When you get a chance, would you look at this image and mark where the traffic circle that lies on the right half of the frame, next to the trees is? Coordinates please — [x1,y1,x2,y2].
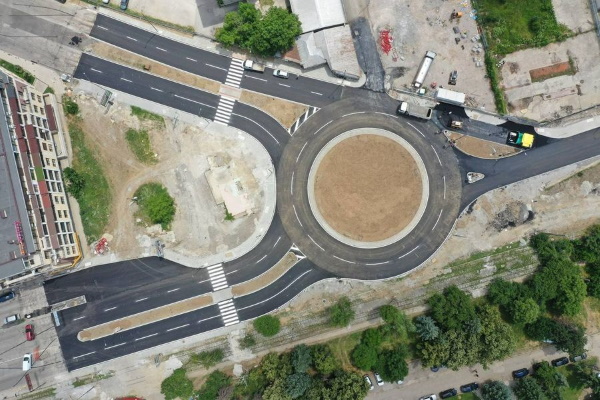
[277,96,461,280]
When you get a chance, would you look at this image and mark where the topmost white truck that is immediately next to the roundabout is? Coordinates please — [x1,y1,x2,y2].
[411,49,438,91]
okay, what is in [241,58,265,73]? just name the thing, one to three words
vehicle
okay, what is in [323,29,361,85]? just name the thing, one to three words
building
